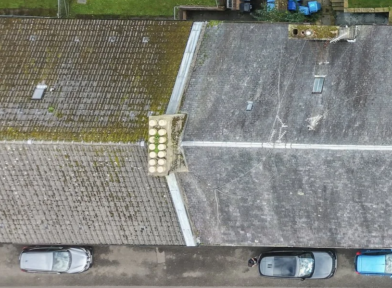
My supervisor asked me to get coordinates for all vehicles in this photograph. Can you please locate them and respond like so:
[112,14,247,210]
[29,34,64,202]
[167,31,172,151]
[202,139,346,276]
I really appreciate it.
[19,246,96,279]
[356,249,392,281]
[259,248,337,286]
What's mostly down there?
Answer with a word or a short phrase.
buildings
